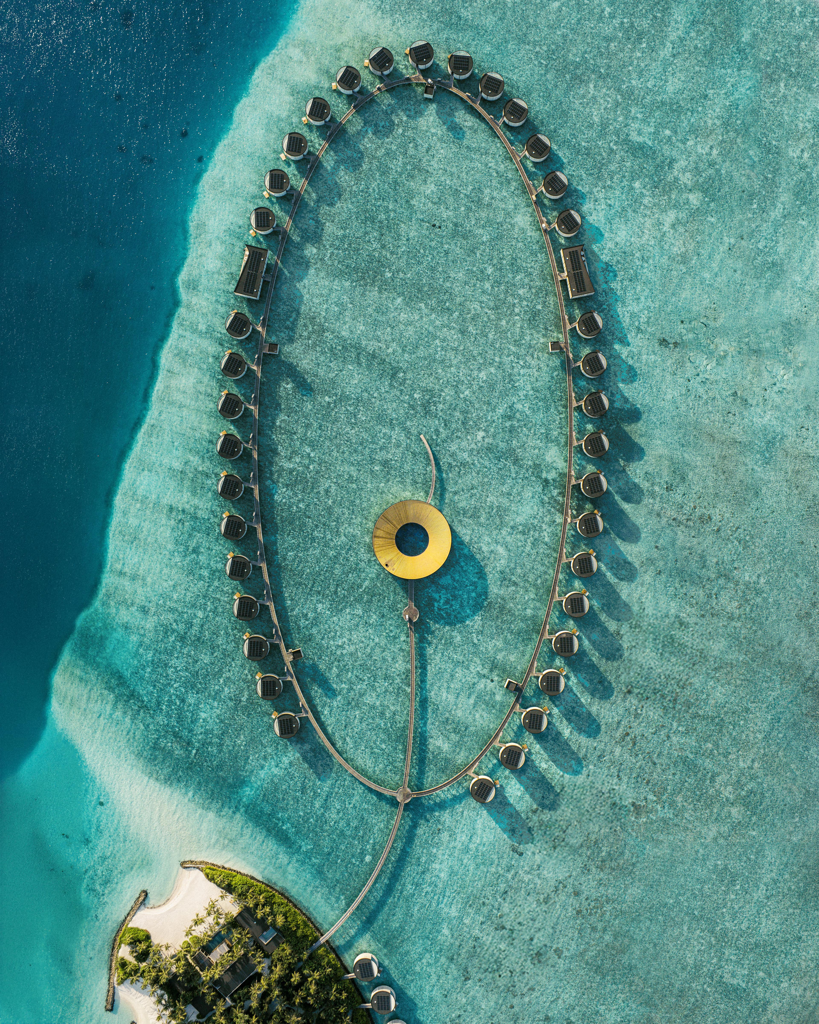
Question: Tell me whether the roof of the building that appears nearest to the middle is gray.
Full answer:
No, the roof of the building that appears nearest to the middle is actually yellow.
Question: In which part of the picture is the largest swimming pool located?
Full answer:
Look in the bottom left portion of the view to spot the largest swimming pool.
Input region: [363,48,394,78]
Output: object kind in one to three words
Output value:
house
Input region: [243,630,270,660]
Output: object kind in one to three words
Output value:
house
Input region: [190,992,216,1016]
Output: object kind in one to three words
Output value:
building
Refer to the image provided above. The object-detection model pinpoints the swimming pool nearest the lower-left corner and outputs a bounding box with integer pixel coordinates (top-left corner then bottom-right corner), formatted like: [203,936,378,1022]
[201,927,238,955]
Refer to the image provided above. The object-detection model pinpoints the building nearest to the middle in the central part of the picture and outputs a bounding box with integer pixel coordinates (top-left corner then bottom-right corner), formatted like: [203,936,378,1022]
[372,500,452,579]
